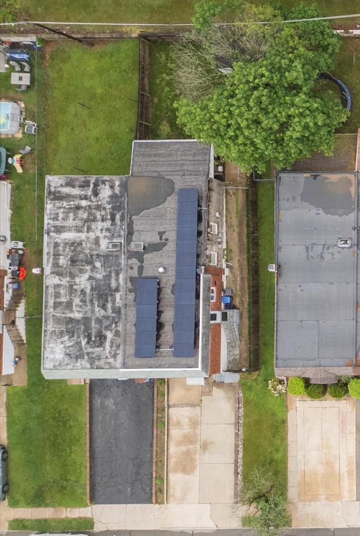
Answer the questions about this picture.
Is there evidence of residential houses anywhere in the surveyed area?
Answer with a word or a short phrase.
Yes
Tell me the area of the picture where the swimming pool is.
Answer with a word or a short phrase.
top left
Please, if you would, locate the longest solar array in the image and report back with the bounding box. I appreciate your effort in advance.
[172,189,199,357]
